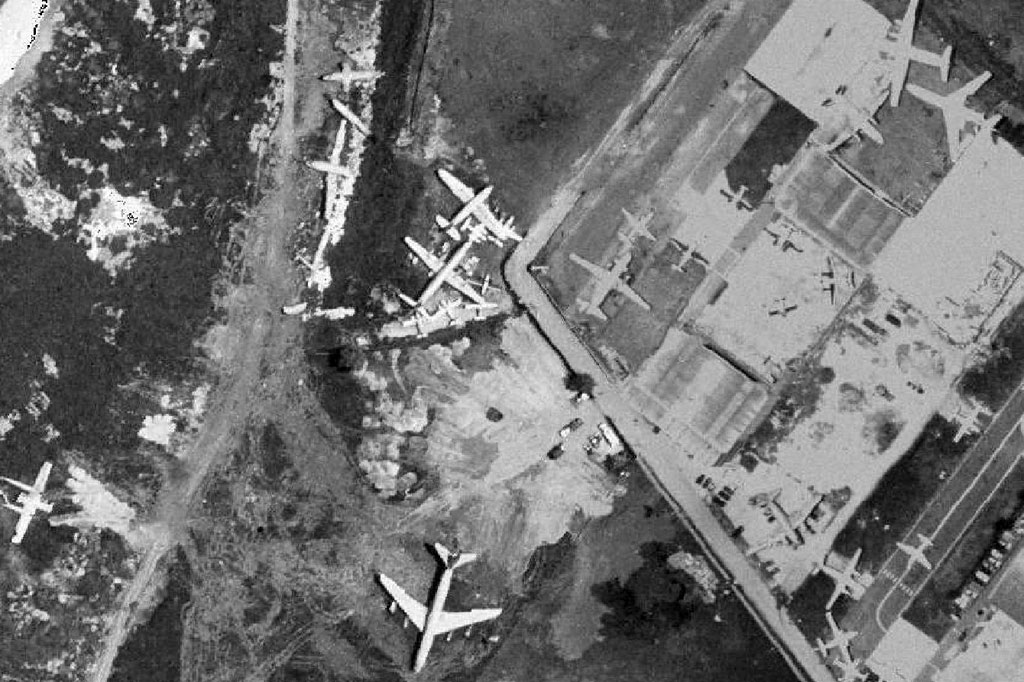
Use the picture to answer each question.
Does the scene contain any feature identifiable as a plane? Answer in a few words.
Yes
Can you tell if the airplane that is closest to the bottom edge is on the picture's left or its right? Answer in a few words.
right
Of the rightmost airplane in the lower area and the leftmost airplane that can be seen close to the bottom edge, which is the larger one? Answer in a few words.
the leftmost airplane that can be seen close to the bottom edge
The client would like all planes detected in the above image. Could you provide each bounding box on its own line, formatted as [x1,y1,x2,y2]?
[436,168,524,241]
[720,184,754,212]
[815,612,859,665]
[12,461,54,542]
[616,207,657,248]
[815,257,857,305]
[828,89,891,151]
[398,236,486,307]
[815,548,870,611]
[908,72,1004,161]
[764,222,804,254]
[748,487,826,556]
[671,237,711,275]
[380,543,502,672]
[768,297,798,318]
[872,0,955,105]
[950,397,994,442]
[323,62,384,93]
[570,251,651,321]
[834,652,871,682]
[897,534,935,570]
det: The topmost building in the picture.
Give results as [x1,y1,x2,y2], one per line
[780,150,910,272]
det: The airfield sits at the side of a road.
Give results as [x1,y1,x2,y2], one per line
[665,0,1024,682]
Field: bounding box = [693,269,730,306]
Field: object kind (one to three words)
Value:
shed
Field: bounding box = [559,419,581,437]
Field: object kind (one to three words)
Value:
vehicle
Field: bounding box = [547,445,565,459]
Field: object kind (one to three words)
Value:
vehicle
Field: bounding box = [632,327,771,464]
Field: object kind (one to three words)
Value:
hangar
